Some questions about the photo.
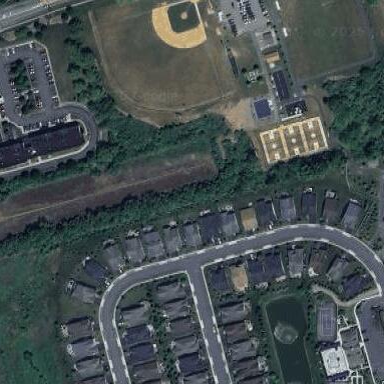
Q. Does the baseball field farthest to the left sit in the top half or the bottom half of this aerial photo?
top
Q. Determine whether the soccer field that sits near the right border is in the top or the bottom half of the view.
top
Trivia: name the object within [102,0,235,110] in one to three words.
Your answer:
baseball field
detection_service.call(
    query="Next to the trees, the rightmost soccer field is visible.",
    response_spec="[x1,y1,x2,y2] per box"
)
[289,0,372,81]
